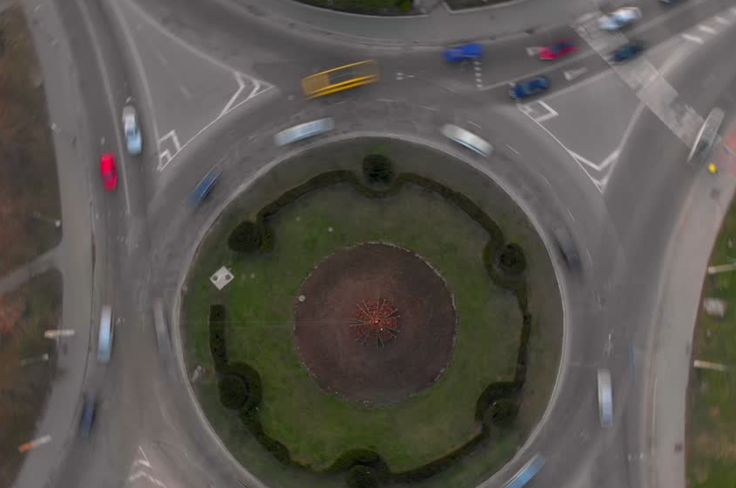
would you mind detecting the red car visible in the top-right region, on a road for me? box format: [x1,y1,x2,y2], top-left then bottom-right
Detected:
[537,37,578,61]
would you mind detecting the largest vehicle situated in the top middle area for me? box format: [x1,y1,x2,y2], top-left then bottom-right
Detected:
[301,60,379,97]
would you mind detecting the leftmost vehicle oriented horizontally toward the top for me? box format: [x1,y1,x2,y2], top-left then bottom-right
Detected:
[275,117,333,144]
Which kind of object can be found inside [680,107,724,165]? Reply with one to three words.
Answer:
vehicle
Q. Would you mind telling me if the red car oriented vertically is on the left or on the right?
left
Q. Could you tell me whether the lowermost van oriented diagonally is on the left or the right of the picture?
right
